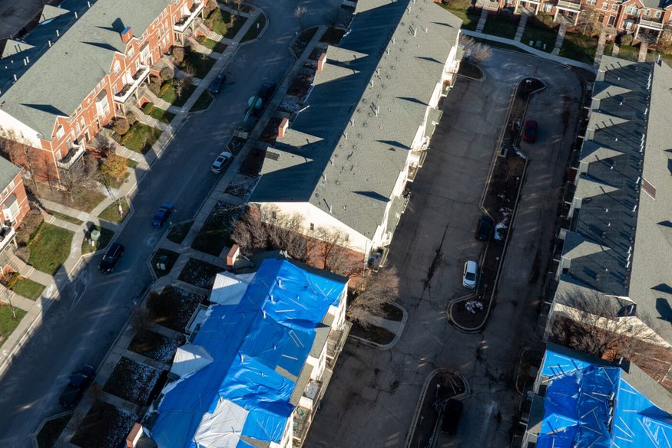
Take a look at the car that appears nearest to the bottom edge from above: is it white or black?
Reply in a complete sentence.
From above, the car that appears nearest to the bottom edge appears black.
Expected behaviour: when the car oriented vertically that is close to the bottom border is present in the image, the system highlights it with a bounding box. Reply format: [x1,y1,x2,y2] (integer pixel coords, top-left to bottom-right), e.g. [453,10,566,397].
[440,394,464,436]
